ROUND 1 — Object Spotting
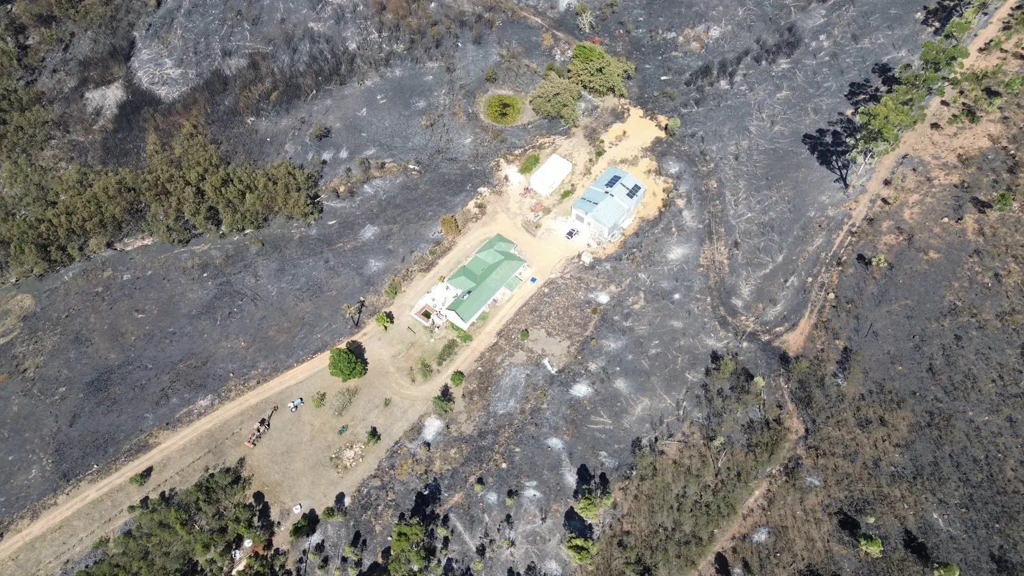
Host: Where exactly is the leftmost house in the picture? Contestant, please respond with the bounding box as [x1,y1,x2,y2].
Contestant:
[446,232,535,331]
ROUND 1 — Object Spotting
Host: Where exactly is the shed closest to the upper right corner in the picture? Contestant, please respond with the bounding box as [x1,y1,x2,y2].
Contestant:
[570,165,648,238]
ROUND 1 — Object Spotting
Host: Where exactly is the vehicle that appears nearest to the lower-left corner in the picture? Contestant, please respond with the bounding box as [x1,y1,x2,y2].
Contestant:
[246,408,277,448]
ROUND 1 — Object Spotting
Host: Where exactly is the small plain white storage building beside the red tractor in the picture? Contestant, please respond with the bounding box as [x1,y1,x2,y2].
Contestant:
[530,153,573,193]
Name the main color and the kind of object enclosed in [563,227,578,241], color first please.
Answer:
white vehicle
